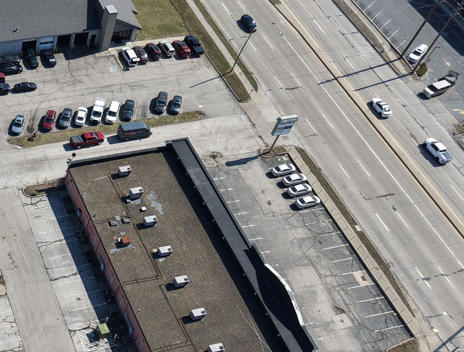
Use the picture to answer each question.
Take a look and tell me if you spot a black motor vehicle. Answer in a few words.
Yes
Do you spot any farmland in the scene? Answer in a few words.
No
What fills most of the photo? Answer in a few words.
paved ground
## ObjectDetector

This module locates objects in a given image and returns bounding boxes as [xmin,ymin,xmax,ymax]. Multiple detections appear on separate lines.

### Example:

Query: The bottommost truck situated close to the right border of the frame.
[422,139,456,164]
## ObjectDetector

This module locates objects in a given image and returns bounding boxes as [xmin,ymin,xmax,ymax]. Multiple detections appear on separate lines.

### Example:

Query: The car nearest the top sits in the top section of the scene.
[239,15,257,31]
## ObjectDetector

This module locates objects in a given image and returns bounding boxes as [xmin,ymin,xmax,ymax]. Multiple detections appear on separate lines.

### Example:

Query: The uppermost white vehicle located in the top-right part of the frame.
[408,43,429,61]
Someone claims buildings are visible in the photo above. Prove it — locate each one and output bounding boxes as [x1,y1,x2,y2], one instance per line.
[0,0,146,55]
[65,134,319,352]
